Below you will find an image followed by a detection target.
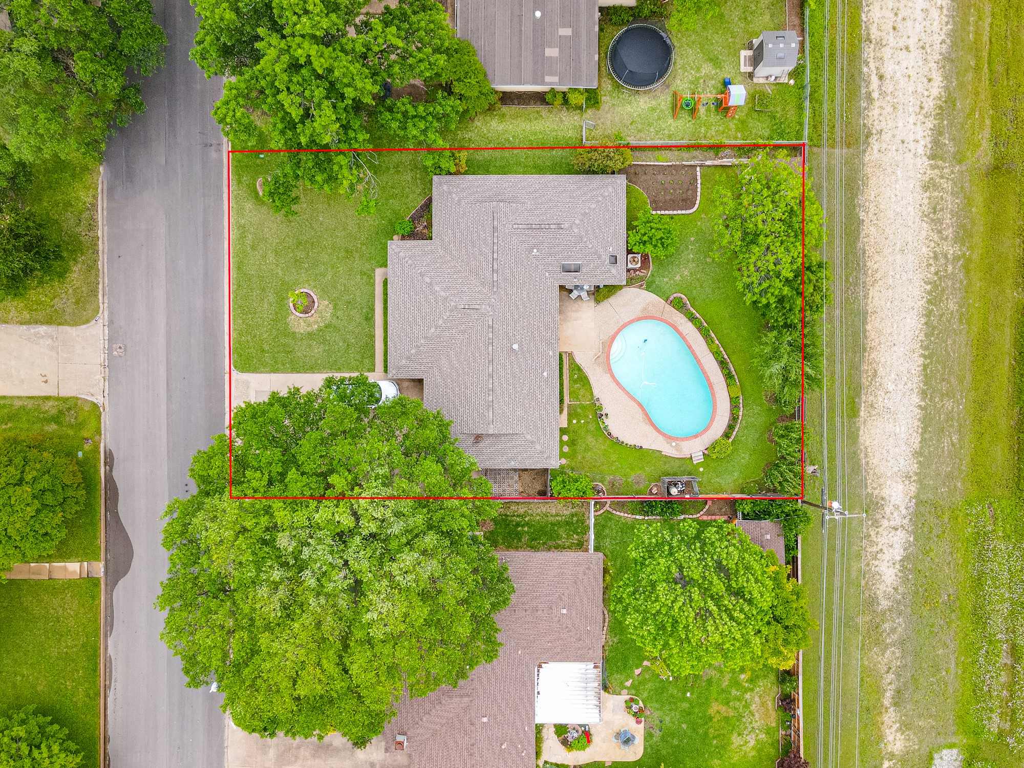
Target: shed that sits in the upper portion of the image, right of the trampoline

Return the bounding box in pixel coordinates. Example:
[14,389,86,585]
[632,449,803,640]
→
[753,31,803,77]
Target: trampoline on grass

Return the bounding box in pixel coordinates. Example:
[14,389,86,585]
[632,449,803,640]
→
[607,18,674,94]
